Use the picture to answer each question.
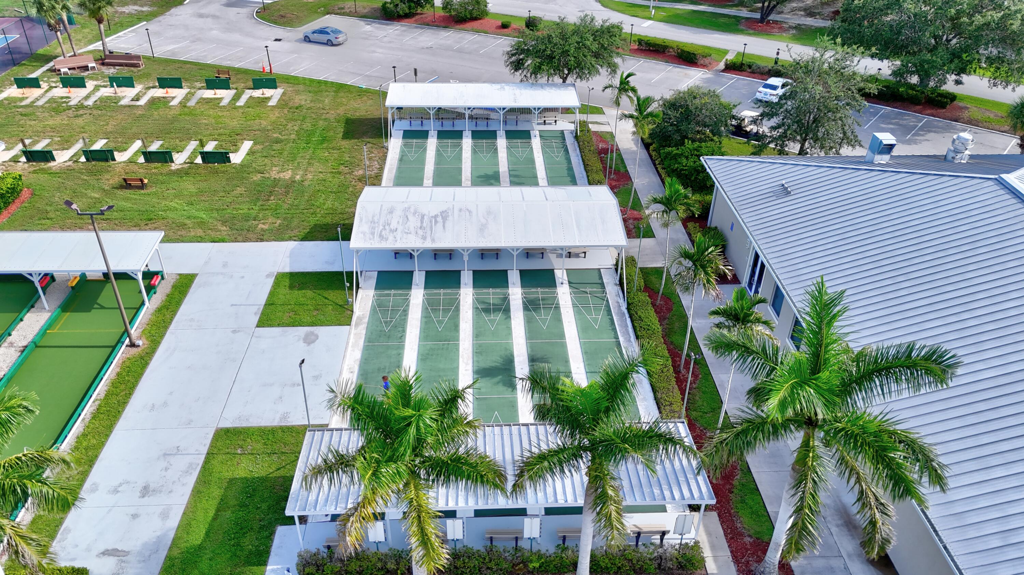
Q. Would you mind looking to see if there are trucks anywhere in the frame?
No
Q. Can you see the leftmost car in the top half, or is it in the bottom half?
top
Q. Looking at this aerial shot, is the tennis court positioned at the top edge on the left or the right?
left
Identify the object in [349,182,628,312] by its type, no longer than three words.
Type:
building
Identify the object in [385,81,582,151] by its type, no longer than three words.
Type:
building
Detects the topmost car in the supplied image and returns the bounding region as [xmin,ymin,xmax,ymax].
[299,25,348,46]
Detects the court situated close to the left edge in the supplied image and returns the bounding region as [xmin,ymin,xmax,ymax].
[0,17,80,75]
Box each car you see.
[299,25,348,46]
[760,78,800,104]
